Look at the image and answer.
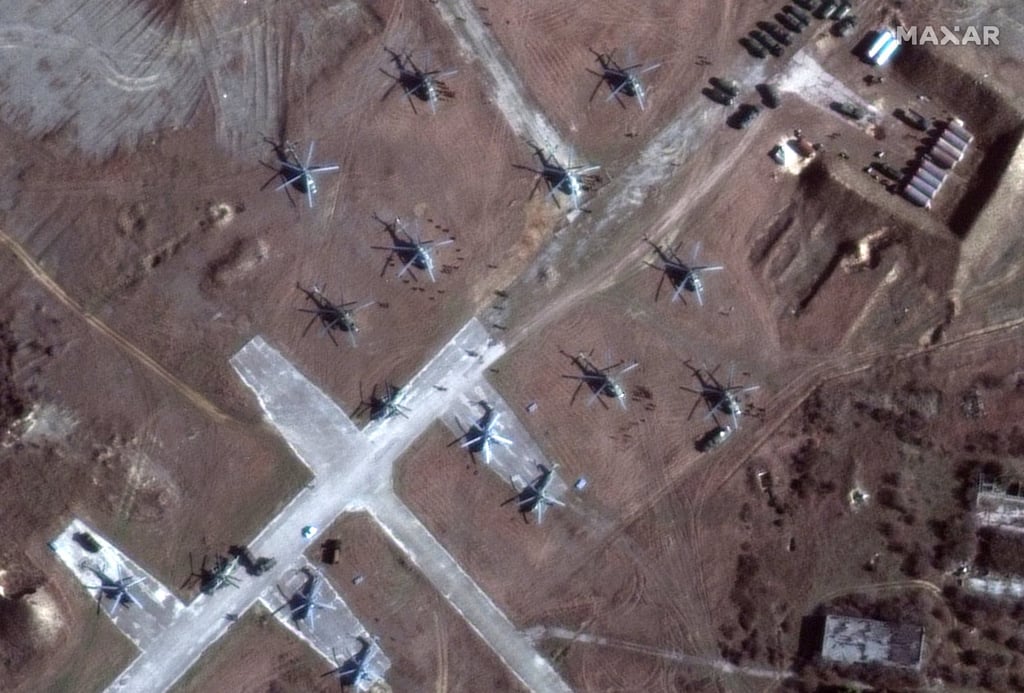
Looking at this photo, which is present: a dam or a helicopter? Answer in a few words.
helicopter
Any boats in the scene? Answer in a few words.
No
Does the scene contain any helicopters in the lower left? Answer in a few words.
Yes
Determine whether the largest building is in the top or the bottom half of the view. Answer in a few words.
bottom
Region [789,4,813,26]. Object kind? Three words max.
truck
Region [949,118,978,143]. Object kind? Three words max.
tent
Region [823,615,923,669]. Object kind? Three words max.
building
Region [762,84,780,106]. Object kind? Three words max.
vehicle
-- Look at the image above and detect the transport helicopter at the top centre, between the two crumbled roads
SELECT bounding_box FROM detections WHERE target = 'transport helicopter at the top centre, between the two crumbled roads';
[598,44,663,107]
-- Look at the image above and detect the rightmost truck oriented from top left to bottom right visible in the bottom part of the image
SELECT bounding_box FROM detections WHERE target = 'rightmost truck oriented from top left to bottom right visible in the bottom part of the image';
[234,546,260,568]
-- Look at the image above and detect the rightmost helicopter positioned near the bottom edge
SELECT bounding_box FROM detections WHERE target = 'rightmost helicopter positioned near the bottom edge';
[334,638,387,693]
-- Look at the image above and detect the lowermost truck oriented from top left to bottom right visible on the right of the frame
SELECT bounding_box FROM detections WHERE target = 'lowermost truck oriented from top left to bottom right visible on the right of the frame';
[876,161,906,184]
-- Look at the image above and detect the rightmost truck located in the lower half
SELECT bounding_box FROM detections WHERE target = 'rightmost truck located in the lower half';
[703,426,730,449]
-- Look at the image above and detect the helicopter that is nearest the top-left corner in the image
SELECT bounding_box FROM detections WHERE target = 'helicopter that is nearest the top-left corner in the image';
[275,138,338,206]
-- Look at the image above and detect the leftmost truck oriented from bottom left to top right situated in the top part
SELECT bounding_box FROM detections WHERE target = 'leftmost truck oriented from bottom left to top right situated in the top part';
[737,105,760,126]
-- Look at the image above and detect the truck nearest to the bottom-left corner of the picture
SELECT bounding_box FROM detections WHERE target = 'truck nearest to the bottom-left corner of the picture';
[79,534,104,555]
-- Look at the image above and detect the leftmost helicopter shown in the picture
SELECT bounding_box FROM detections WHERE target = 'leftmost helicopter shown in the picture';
[94,561,147,614]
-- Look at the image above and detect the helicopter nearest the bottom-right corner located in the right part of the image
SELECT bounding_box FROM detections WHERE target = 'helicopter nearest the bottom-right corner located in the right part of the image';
[697,360,762,428]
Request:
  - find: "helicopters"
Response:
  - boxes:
[285,565,339,632]
[662,239,727,306]
[275,138,338,206]
[575,347,641,410]
[598,44,663,107]
[94,561,147,614]
[538,135,603,204]
[697,360,762,428]
[462,401,515,463]
[366,380,409,422]
[196,552,240,594]
[334,638,387,693]
[388,212,454,277]
[394,41,459,111]
[515,463,568,524]
[309,281,374,344]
